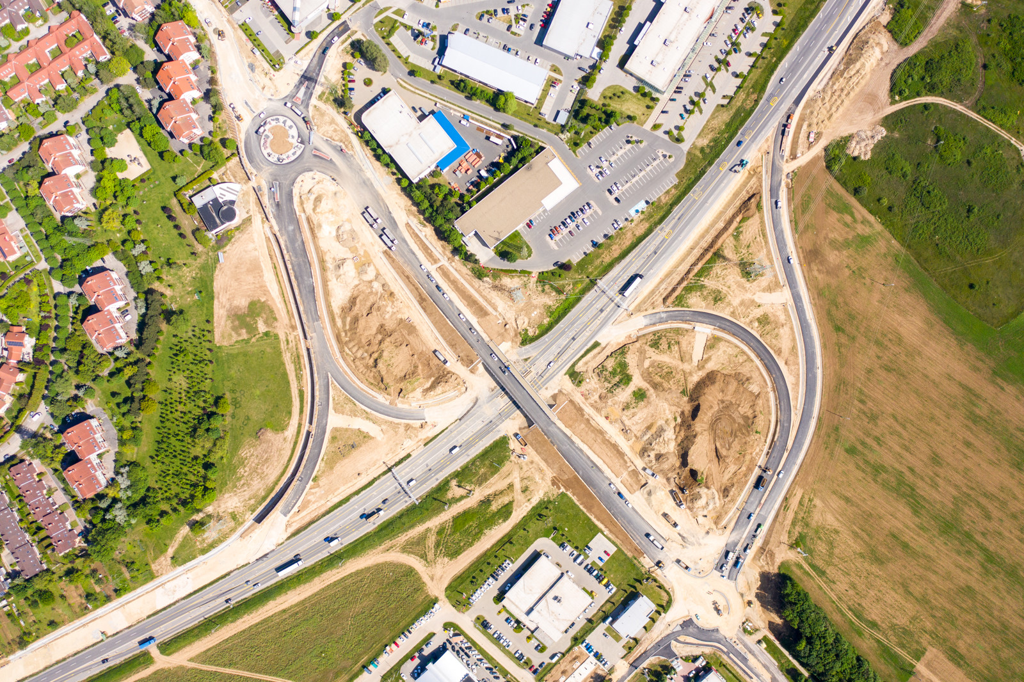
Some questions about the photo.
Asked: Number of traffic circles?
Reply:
two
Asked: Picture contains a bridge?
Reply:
Yes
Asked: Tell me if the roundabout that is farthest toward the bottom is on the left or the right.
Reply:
right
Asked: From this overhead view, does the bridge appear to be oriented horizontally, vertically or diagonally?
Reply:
diagonally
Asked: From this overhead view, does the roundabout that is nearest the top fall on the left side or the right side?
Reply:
left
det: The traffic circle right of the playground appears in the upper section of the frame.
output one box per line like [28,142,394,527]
[244,101,320,176]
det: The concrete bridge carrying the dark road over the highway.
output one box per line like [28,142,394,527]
[468,340,567,433]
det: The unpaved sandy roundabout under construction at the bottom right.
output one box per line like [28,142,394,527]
[672,557,746,631]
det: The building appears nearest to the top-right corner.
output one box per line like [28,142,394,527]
[622,0,733,98]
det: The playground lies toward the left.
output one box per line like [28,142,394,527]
[106,129,150,170]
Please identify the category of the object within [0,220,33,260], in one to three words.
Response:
house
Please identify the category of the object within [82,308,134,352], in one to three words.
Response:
house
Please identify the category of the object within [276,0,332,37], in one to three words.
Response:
building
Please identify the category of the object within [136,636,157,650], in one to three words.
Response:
vehicle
